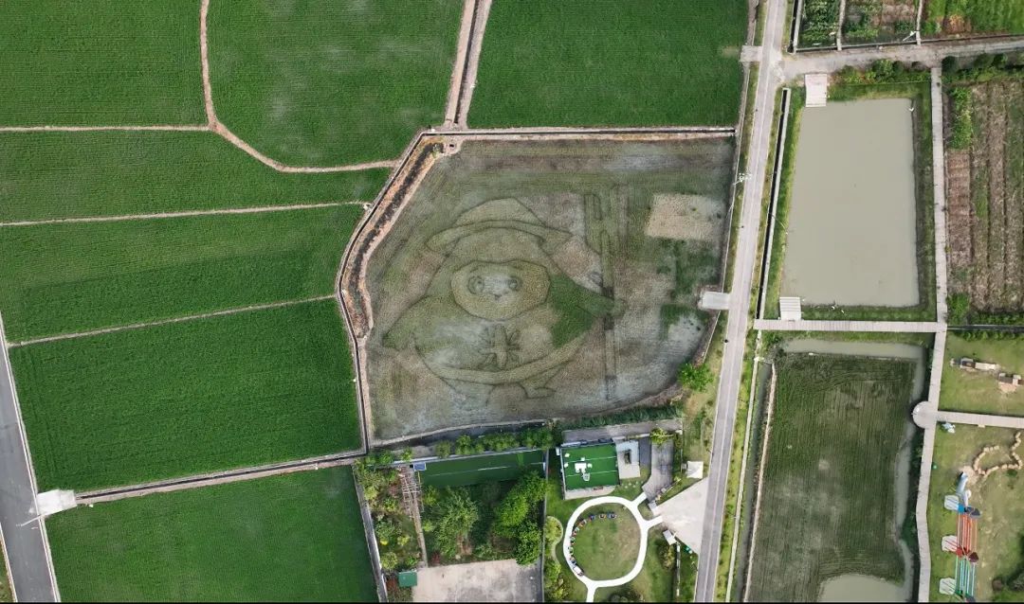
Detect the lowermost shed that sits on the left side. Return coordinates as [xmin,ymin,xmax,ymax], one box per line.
[399,567,419,588]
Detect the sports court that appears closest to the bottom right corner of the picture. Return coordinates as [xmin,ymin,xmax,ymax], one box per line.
[563,443,618,489]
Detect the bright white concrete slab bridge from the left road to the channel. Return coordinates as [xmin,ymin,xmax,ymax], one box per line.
[37,490,77,518]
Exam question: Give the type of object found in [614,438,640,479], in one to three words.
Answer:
building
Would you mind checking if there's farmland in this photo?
Yes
